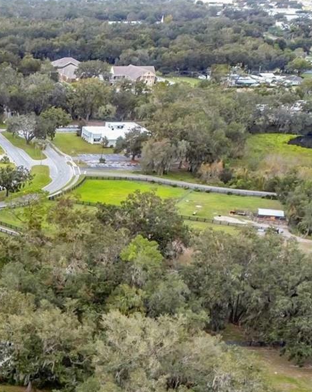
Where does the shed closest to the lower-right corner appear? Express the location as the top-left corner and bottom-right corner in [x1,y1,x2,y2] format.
[250,202,288,221]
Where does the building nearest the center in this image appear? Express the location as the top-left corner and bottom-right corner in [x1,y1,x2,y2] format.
[83,117,151,147]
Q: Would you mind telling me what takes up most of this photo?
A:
trees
